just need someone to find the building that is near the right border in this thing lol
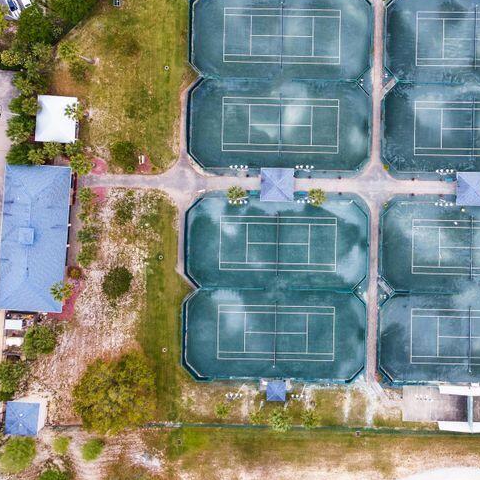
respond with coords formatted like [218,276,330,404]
[455,172,480,205]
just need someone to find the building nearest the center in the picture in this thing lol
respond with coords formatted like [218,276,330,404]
[259,168,293,202]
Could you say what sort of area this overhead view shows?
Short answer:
sports ground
